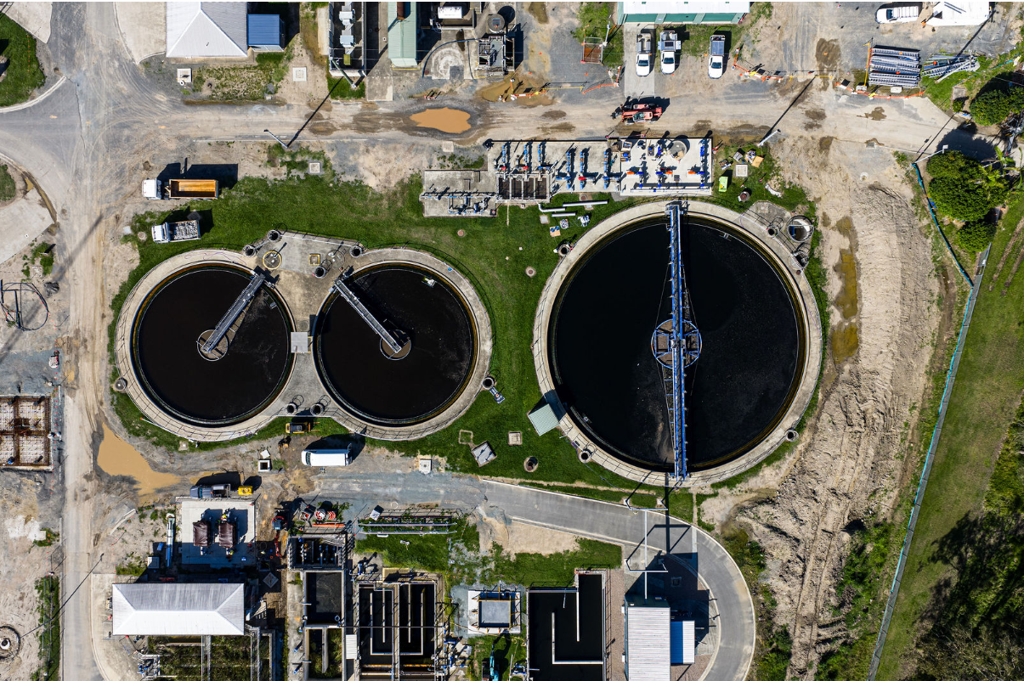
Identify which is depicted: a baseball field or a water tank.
water tank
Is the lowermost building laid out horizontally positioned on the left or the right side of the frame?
left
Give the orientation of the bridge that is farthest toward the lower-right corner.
vertically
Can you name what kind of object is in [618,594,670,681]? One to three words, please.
building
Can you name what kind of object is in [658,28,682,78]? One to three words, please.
truck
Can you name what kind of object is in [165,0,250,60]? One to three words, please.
building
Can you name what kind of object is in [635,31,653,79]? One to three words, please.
vehicle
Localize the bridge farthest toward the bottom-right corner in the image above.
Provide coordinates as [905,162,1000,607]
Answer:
[656,196,699,487]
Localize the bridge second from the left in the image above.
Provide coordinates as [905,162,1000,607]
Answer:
[321,270,405,354]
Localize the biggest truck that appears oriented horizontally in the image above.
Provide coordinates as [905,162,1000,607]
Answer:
[140,175,221,201]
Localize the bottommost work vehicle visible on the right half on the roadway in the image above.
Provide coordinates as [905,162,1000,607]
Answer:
[607,97,662,124]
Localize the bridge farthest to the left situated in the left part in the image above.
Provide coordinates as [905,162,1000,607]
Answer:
[198,263,275,355]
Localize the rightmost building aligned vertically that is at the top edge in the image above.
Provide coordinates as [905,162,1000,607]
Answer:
[389,0,418,69]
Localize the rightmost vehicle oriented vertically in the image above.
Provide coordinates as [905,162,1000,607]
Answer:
[708,30,727,81]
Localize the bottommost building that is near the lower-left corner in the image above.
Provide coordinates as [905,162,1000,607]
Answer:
[111,579,250,635]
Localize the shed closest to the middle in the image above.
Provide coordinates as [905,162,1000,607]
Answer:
[529,404,560,436]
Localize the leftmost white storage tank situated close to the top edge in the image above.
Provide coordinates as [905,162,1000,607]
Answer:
[432,0,475,29]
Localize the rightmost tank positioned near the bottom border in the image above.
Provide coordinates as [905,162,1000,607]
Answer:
[527,570,607,681]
